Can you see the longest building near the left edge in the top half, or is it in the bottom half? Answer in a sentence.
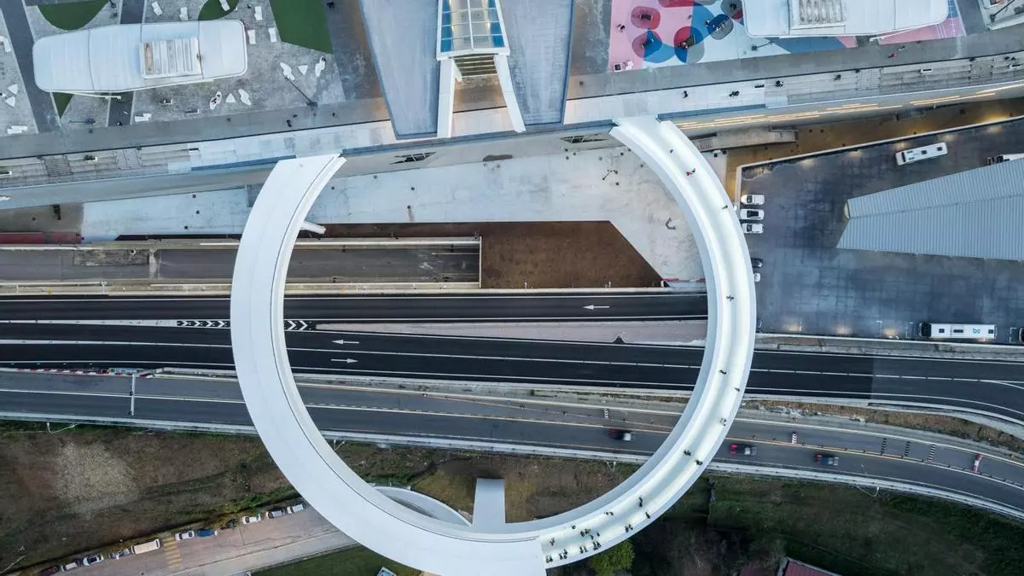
You can find the longest building near the left edge in the top half.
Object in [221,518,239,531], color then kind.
black vehicle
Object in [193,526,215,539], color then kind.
blue vehicle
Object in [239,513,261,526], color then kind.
white vehicle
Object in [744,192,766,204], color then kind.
white vehicle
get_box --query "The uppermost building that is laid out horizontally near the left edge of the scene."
[32,18,248,99]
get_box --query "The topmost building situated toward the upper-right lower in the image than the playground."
[690,126,800,153]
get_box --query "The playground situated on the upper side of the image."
[608,0,857,72]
